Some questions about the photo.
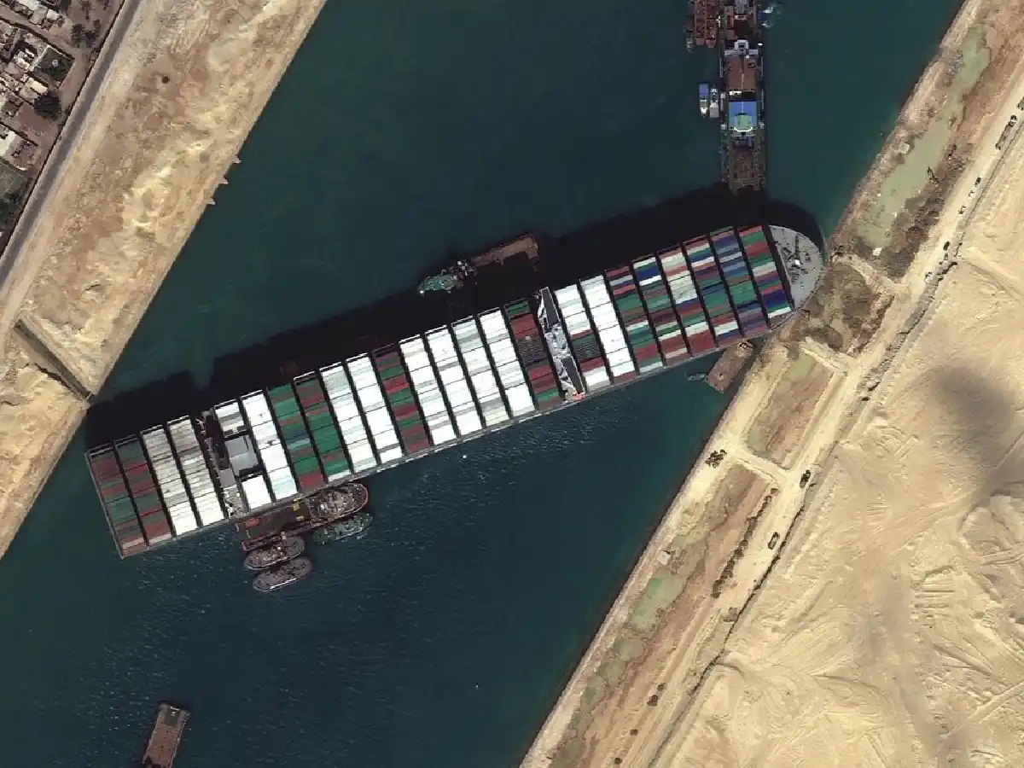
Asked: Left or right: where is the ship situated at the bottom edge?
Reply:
left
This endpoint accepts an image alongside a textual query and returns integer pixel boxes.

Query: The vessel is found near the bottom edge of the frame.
[141,704,190,768]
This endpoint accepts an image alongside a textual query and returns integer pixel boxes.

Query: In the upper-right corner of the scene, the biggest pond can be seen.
[859,31,987,243]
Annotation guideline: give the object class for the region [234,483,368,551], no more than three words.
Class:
ship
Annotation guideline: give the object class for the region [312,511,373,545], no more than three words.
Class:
boat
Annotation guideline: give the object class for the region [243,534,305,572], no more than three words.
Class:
boat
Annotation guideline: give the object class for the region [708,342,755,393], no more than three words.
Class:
ship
